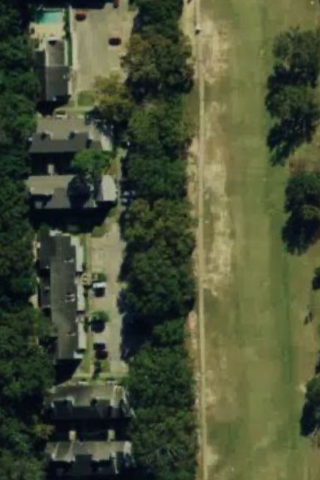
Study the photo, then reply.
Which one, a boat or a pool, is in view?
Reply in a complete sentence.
Looking from above, you can make out a pool.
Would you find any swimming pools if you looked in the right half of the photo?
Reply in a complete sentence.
No, no swimming pool is visible in the right half of the photo.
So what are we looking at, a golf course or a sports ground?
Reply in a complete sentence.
The area seen from above is a golf course.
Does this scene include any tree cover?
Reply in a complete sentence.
Yes, there is tree cover in the image.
